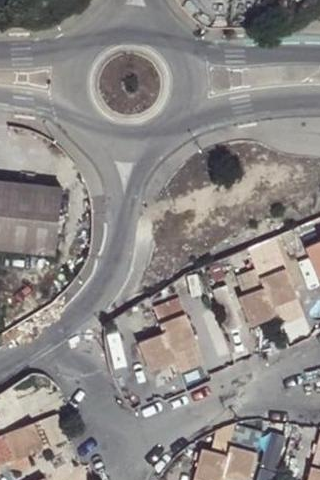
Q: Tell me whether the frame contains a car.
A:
Yes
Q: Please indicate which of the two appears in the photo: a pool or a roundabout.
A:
roundabout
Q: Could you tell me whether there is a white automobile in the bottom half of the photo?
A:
Yes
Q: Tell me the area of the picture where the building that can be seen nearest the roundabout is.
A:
left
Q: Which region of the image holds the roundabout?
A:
top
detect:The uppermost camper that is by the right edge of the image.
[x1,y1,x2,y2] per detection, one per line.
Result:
[300,258,320,289]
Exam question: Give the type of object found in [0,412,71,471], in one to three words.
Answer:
house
